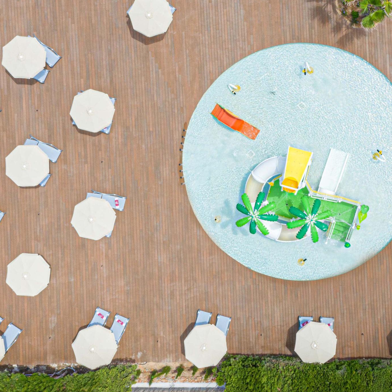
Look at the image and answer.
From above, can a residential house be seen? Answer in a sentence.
No, I can see no residential house in this picture.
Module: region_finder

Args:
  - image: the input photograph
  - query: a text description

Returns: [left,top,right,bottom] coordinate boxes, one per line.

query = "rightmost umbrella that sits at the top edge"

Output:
[130,0,175,39]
